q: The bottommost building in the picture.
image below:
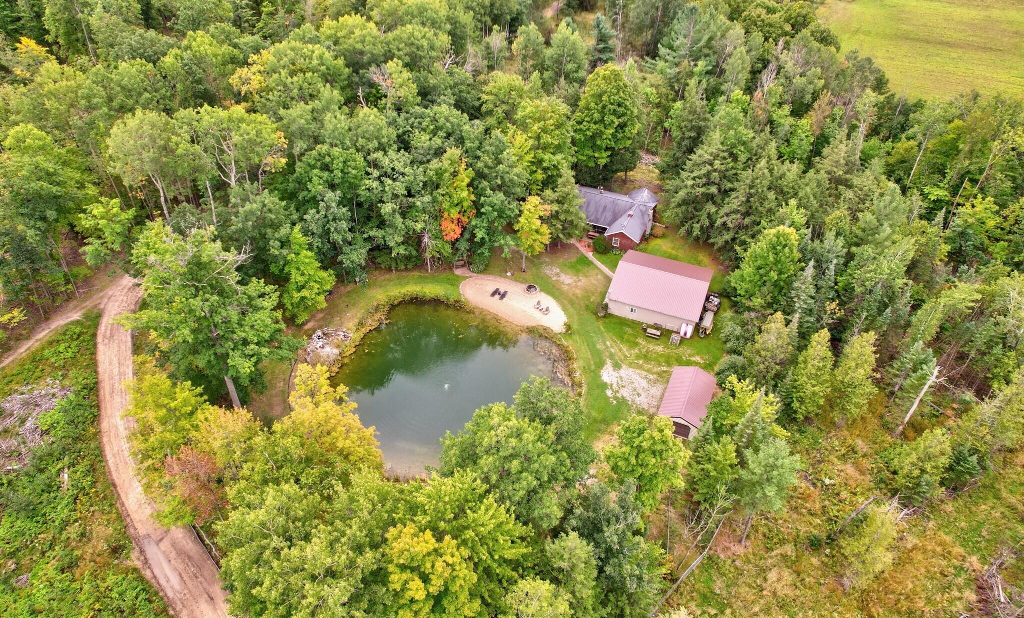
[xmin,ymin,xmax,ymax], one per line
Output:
[656,366,715,441]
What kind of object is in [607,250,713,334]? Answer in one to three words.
barn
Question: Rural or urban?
rural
